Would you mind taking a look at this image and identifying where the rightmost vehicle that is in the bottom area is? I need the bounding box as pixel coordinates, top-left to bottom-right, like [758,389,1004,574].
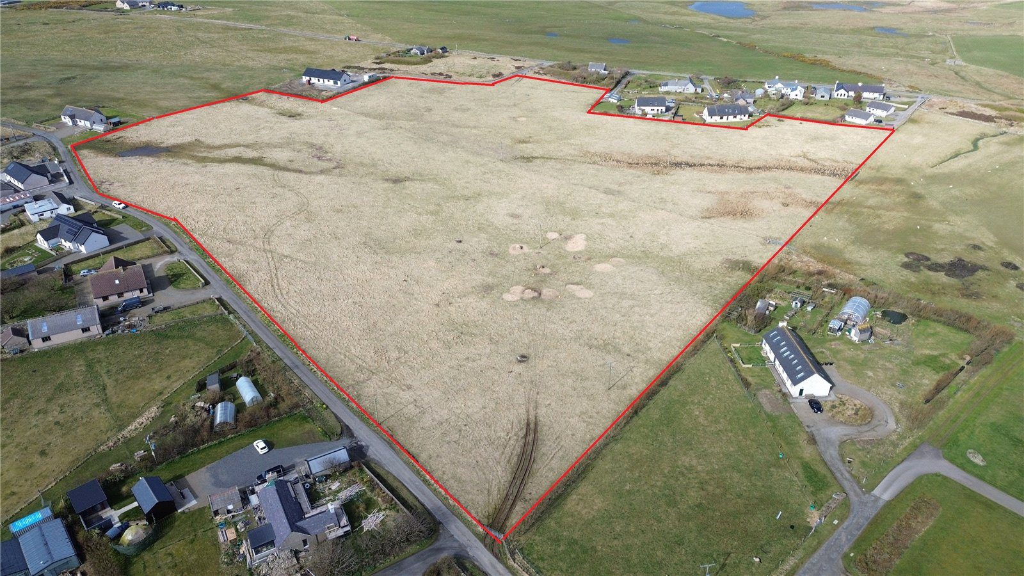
[809,395,823,412]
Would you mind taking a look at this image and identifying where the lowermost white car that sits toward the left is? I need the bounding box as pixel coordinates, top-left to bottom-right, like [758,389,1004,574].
[251,435,269,454]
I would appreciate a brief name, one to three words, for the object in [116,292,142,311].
vehicle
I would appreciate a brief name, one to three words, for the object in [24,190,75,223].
house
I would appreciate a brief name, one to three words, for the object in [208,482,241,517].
shed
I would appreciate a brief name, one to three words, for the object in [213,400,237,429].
greenhouse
